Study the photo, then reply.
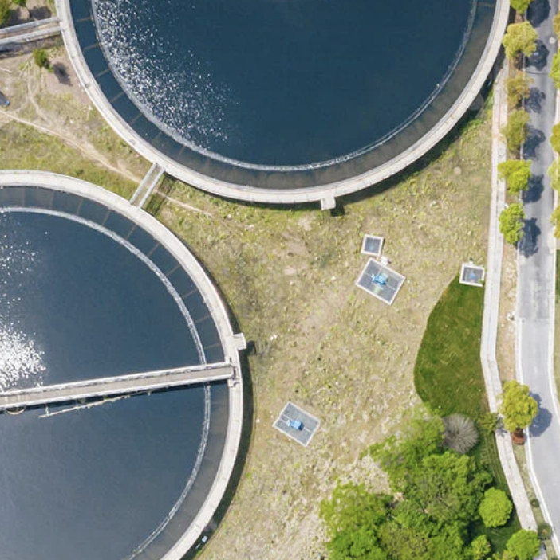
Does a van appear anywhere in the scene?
No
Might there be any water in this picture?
Yes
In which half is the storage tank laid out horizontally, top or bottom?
top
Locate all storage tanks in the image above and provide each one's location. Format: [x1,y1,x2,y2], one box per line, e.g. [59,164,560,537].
[0,170,248,560]
[57,0,510,215]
